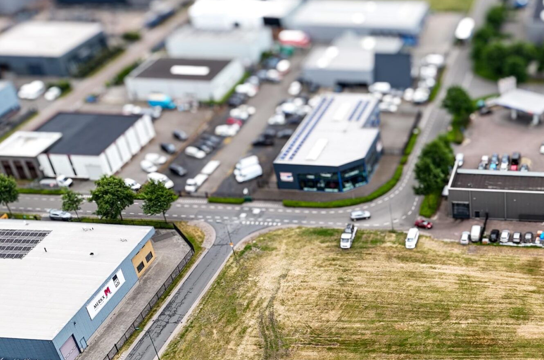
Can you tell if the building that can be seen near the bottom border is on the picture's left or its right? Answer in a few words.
left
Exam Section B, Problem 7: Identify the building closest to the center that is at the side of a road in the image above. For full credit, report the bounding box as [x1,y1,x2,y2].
[273,93,382,192]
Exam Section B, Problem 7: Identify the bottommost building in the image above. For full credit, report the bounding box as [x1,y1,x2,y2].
[0,220,164,360]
